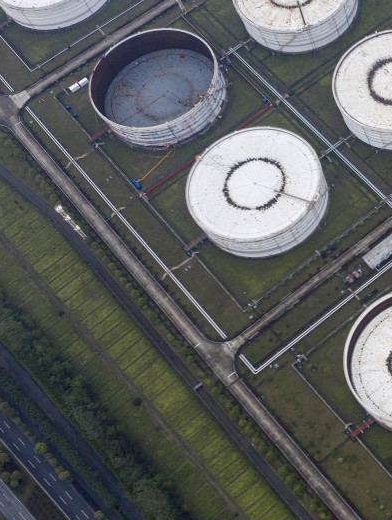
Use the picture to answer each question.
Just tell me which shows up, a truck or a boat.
truck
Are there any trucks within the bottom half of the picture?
No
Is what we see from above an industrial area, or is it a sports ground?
industrial area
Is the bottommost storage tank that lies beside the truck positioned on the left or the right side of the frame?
right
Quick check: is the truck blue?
Yes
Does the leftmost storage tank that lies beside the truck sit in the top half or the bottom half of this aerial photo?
top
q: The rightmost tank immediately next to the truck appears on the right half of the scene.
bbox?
[184,126,331,260]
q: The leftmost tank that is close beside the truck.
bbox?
[88,27,229,149]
